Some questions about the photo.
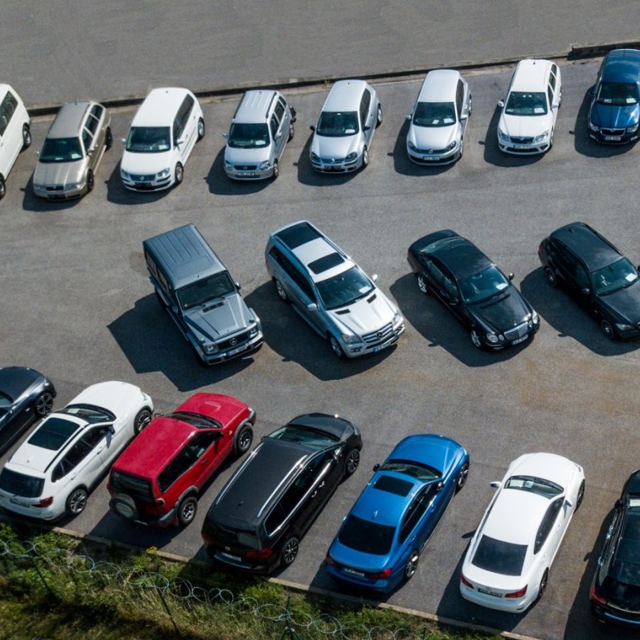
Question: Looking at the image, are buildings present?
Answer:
No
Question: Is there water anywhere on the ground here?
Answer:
No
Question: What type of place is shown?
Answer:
parking lot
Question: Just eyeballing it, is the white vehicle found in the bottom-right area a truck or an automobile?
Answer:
automobile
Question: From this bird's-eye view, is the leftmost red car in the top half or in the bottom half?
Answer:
bottom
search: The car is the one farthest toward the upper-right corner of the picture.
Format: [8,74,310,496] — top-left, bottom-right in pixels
[588,49,640,142]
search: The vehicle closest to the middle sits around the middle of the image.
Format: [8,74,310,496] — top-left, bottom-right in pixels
[261,221,403,362]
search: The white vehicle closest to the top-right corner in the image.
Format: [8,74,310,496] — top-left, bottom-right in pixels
[498,56,564,153]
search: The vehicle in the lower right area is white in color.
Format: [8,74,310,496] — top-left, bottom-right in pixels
[460,451,590,614]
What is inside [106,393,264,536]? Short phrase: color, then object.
red car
